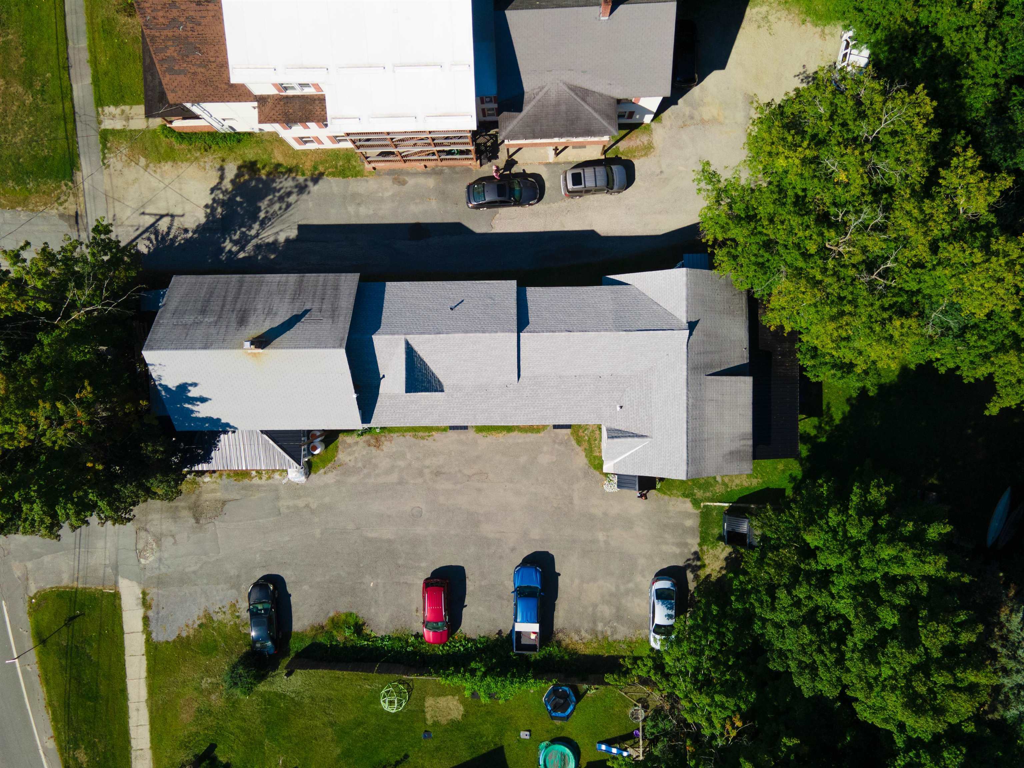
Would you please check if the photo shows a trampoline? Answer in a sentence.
Yes, the picture does show a trampoline.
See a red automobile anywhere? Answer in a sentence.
Yes, a red automobile can be made out from above.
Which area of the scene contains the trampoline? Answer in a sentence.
You can find the trampoline in the bottom area of the picture.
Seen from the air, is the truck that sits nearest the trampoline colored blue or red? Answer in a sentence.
The color of the truck that sits nearest the trampoline is blue.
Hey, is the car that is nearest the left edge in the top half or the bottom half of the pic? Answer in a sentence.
You can find the car that is nearest the left edge in the bottom half.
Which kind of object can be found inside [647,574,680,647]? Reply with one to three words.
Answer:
car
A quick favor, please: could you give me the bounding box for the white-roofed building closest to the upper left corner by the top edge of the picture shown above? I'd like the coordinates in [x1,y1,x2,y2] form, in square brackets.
[133,0,500,169]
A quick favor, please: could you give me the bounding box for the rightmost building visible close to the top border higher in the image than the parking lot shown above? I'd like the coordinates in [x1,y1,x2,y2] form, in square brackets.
[498,0,679,158]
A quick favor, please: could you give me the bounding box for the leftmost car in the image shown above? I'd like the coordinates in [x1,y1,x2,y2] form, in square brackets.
[243,579,281,655]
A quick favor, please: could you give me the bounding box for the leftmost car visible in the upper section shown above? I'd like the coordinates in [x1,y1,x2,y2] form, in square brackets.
[465,175,538,211]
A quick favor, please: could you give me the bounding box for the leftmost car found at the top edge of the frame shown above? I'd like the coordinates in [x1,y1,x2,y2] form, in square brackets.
[673,19,705,90]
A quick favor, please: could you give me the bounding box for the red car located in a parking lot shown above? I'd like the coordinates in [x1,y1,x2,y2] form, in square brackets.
[420,577,452,643]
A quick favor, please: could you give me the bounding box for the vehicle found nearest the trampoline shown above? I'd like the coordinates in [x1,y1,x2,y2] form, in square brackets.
[511,563,545,652]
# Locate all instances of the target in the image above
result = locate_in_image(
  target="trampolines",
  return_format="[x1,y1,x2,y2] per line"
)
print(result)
[542,684,579,725]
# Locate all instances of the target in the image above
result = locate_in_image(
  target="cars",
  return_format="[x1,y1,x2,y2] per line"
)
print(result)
[420,577,452,643]
[465,175,538,211]
[559,162,627,200]
[673,19,705,90]
[830,24,875,85]
[647,574,680,647]
[243,579,281,655]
